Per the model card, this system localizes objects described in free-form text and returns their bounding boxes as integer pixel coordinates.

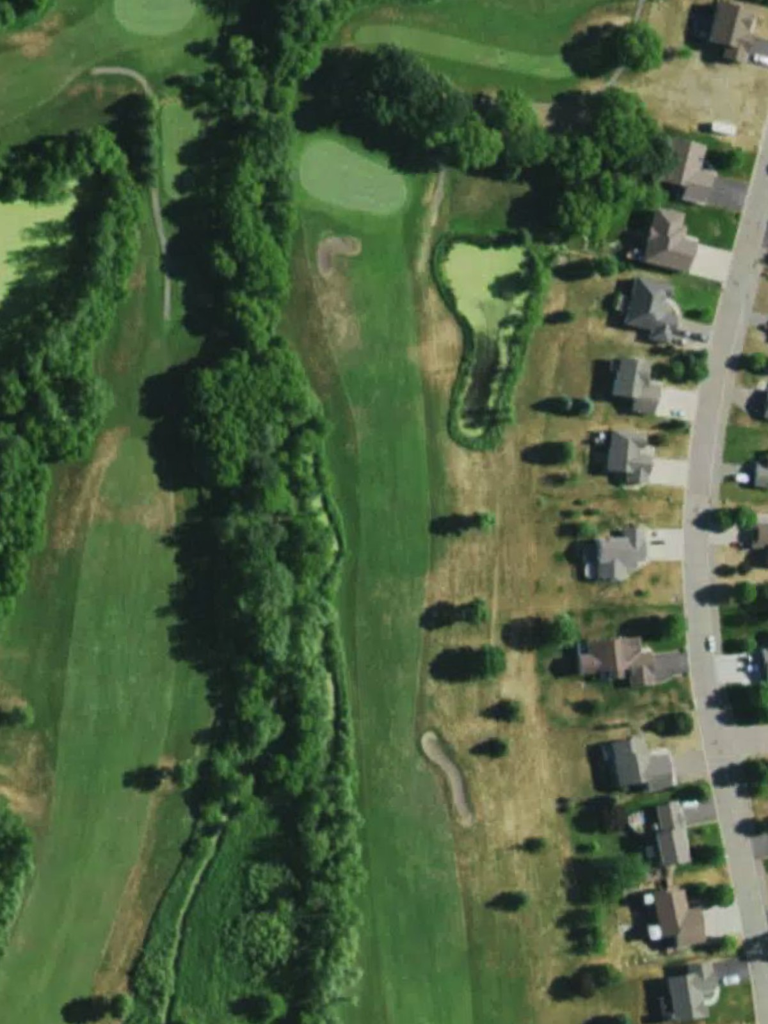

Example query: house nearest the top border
[711,0,766,61]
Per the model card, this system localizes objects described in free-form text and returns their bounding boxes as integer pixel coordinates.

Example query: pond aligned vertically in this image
[444,242,536,439]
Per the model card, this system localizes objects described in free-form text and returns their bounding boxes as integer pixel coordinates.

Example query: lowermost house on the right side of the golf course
[657,962,720,1024]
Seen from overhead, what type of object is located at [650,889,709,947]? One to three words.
house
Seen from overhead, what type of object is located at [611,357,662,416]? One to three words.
house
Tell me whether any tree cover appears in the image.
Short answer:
Yes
